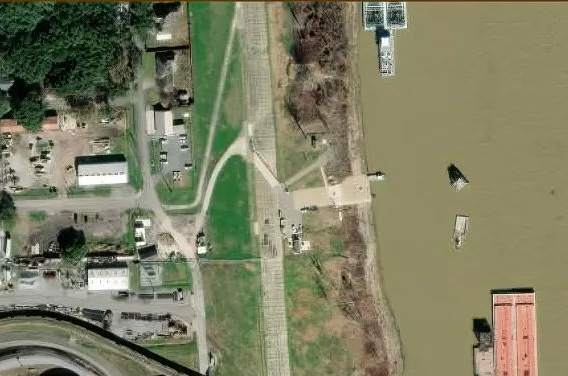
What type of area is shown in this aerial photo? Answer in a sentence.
It's a port.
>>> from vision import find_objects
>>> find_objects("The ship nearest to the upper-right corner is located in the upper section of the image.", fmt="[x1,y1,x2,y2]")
[386,0,406,27]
